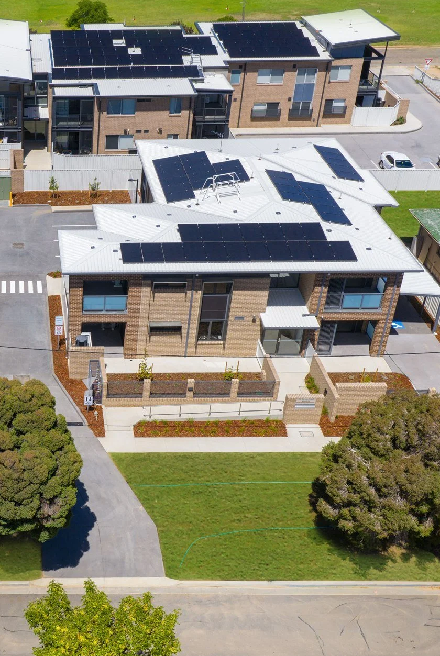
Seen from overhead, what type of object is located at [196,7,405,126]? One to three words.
building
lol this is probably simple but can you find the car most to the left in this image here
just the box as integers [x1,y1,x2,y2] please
[380,151,417,169]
